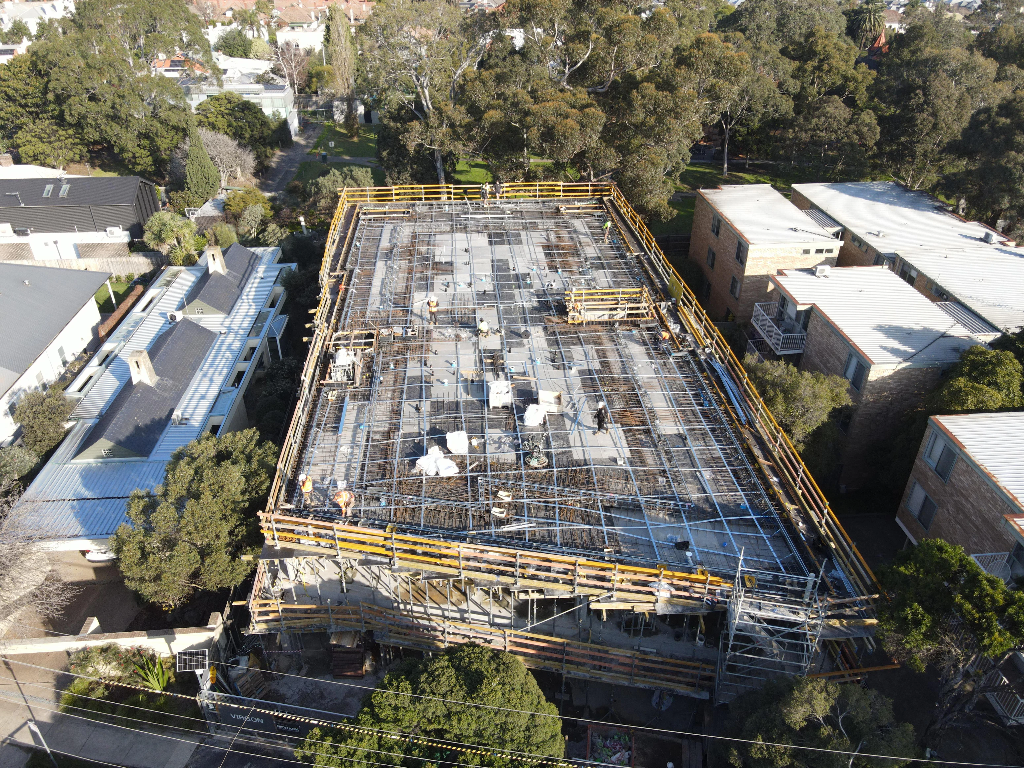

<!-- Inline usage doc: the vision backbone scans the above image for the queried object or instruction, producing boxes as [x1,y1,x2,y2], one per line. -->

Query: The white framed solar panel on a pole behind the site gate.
[175,647,210,707]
